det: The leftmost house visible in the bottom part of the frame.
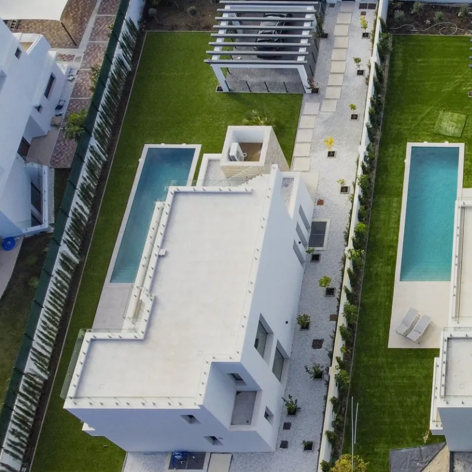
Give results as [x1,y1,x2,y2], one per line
[60,123,315,452]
